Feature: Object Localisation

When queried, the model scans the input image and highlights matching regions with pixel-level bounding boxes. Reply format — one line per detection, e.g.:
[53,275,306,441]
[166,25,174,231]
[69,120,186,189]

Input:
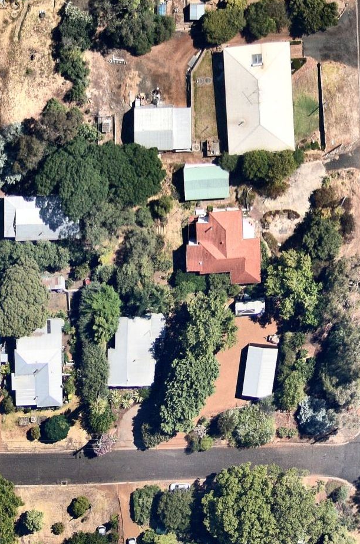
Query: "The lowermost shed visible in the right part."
[241,342,278,398]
